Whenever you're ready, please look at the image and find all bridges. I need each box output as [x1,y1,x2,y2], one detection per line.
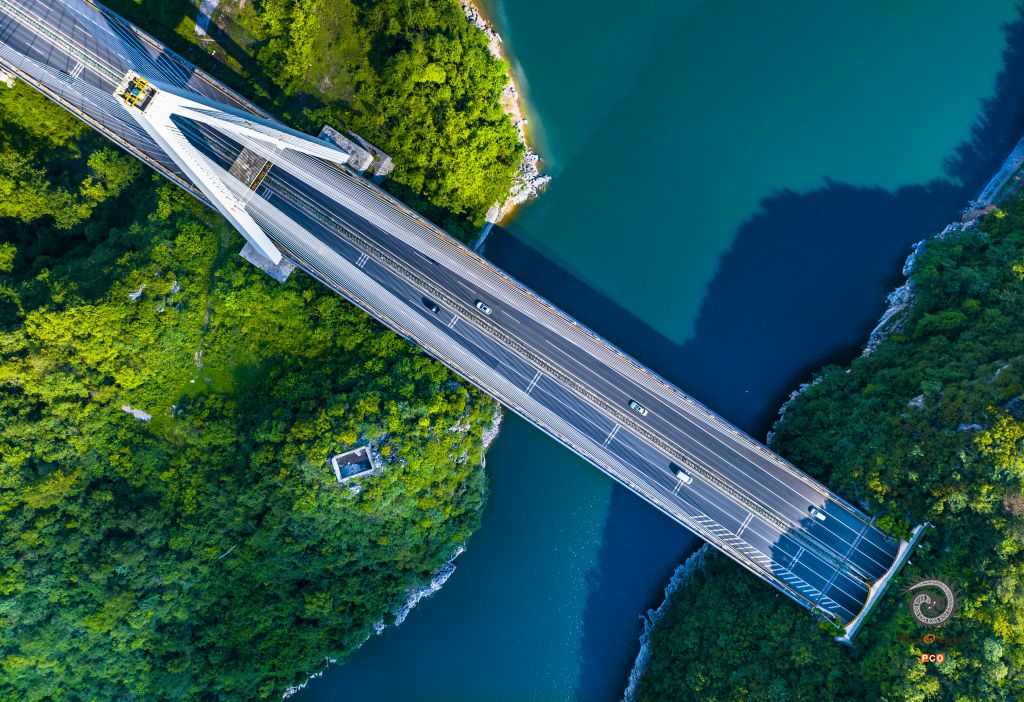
[0,0,875,611]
